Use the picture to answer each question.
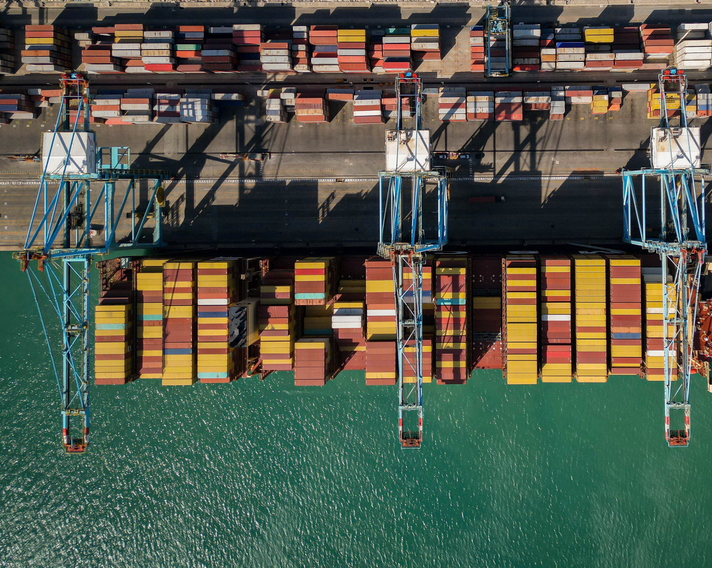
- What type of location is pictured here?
port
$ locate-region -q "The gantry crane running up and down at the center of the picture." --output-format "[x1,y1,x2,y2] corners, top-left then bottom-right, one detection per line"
[375,67,460,452]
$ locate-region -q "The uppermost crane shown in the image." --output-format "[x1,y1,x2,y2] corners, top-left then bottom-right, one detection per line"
[481,1,512,83]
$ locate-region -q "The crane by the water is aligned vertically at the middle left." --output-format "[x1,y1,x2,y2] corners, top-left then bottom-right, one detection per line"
[17,69,175,454]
